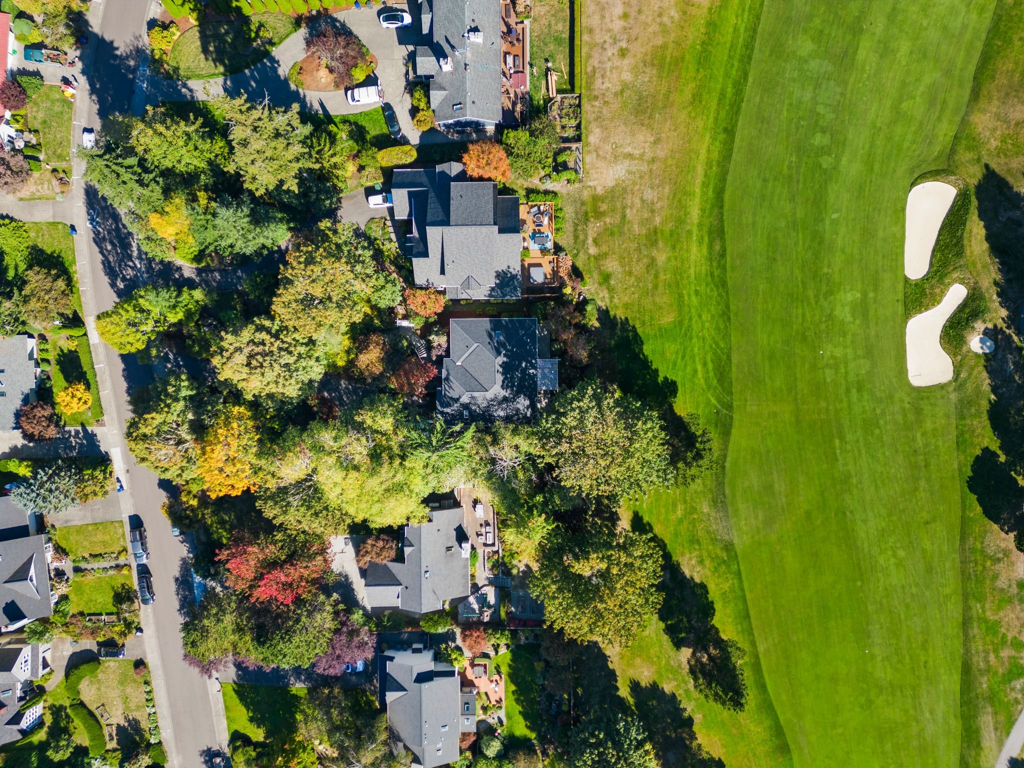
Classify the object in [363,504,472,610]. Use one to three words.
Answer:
house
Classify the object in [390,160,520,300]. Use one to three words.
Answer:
house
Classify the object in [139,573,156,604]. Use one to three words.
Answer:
car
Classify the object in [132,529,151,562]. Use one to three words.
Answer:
vehicle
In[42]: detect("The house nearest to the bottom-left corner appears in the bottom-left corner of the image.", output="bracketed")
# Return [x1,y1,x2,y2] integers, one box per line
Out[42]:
[0,679,47,745]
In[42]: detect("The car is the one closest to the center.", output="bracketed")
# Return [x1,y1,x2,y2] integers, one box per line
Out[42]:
[370,194,392,208]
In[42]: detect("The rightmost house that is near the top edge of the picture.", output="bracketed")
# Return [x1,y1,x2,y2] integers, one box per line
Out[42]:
[414,0,502,129]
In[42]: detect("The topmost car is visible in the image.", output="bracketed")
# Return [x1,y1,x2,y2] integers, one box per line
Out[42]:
[381,15,410,29]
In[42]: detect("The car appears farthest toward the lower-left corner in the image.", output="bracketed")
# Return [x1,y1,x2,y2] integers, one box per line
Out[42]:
[97,645,127,660]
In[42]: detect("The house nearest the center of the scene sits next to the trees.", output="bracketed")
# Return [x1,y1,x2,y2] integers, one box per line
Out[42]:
[436,318,538,426]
